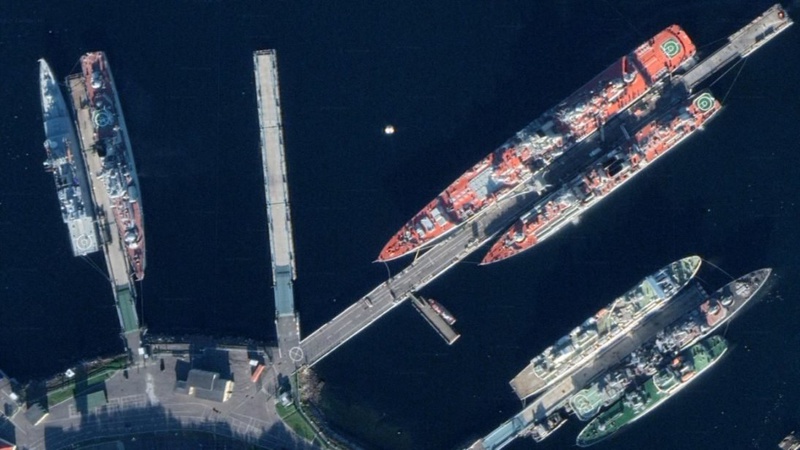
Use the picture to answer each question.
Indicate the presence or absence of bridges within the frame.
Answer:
Yes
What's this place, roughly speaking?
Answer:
port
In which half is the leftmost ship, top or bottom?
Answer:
top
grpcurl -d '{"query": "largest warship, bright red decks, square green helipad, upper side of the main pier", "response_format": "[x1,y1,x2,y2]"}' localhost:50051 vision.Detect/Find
[371,27,697,264]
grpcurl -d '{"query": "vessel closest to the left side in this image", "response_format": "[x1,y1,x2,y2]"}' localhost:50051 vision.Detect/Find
[38,58,101,256]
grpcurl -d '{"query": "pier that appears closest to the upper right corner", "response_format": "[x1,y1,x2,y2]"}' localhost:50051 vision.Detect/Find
[728,4,795,60]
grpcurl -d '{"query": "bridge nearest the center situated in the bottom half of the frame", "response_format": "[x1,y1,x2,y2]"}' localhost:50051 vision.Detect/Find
[274,265,294,316]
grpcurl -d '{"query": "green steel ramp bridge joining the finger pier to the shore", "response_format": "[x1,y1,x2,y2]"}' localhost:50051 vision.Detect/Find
[113,286,141,334]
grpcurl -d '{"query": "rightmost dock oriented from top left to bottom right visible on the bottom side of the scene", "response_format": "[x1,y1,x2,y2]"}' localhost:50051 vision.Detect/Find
[409,293,462,346]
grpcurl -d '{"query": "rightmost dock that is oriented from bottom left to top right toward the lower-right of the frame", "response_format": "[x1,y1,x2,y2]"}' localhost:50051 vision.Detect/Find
[512,282,712,435]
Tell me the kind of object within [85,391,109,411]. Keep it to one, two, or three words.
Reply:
shed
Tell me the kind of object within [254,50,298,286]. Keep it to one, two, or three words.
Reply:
pier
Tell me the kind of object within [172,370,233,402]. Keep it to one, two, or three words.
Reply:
building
